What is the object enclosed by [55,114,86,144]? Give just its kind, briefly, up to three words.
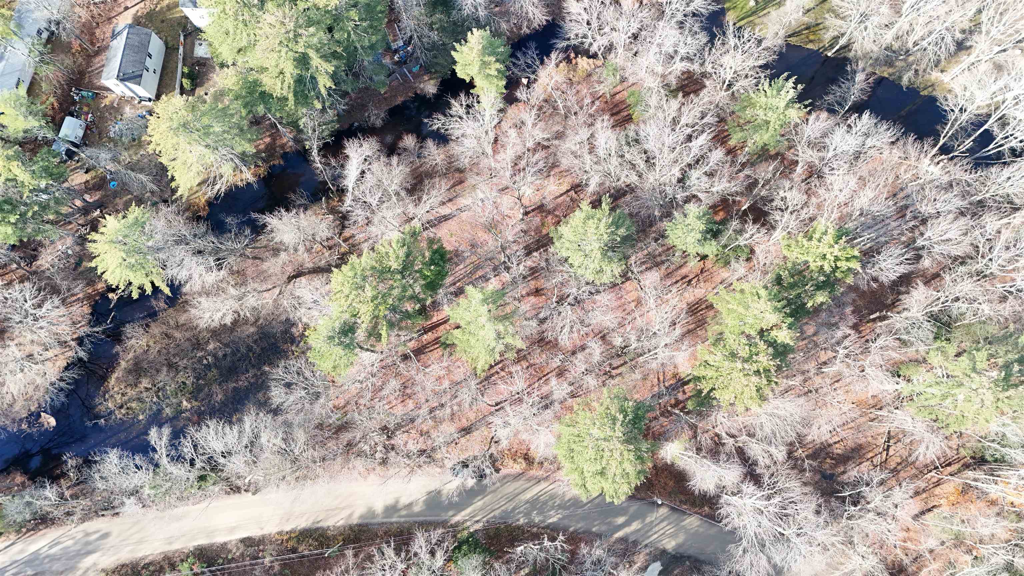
shed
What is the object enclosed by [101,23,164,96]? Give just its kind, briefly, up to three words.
house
